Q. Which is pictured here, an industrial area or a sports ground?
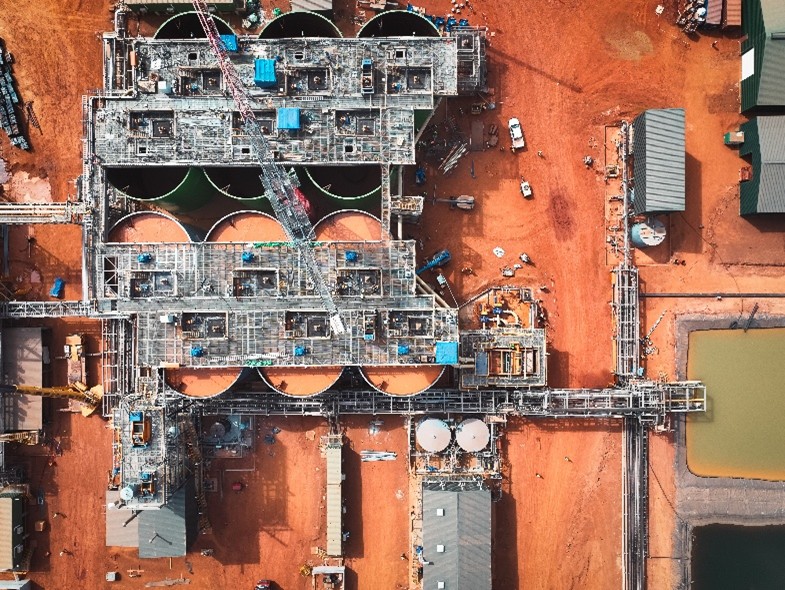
industrial area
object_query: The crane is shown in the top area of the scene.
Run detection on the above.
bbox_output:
[184,0,347,336]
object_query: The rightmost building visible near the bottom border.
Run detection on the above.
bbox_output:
[419,476,491,590]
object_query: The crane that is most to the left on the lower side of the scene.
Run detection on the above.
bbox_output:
[0,337,109,417]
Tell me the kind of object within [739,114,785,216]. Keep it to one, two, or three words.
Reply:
building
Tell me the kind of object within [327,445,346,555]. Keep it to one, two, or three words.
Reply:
building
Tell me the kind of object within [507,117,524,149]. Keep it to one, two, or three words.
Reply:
vehicle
